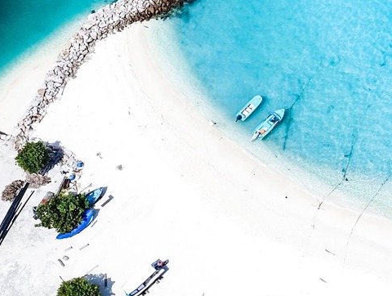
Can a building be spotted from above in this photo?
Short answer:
No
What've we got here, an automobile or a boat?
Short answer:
boat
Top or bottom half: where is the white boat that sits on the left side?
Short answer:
bottom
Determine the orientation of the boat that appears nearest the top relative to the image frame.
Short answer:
on a diagonal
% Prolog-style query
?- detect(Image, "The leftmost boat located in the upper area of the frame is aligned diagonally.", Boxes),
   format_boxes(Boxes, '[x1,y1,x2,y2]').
[229,97,261,126]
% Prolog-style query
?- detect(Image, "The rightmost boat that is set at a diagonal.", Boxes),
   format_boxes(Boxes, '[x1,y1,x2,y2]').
[249,109,286,147]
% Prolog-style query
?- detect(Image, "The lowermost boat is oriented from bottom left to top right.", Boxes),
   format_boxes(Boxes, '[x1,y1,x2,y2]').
[126,259,168,296]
